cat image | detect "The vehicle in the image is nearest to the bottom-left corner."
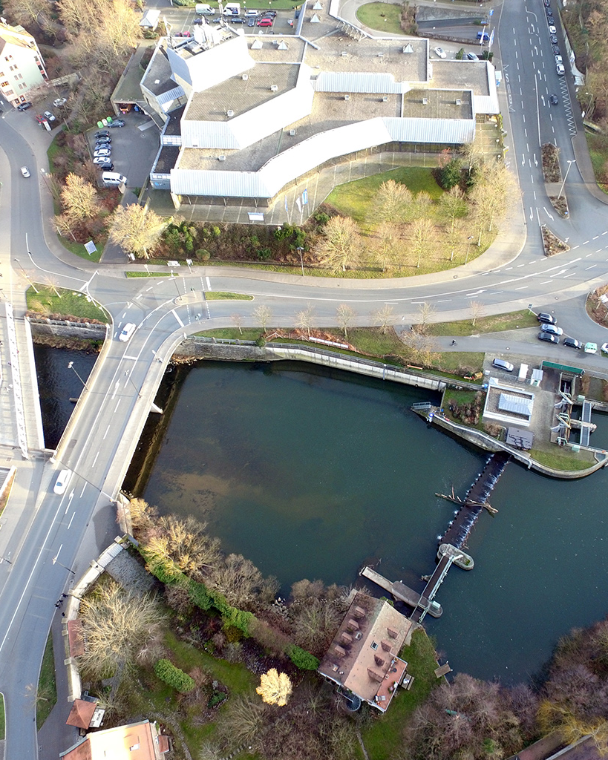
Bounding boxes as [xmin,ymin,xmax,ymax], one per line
[55,470,72,493]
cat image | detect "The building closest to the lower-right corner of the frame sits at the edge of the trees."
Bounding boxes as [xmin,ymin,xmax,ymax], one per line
[317,590,414,714]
